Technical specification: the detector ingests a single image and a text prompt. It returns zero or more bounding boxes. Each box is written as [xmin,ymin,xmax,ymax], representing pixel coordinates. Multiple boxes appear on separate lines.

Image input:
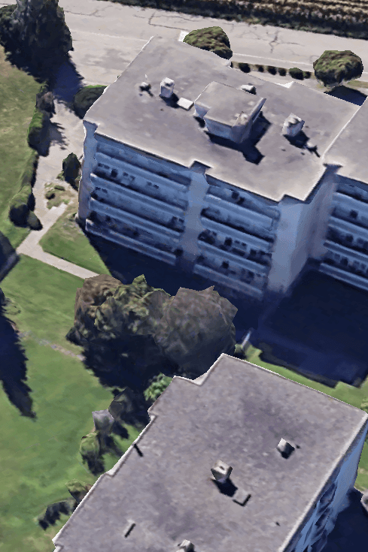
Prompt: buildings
[51,352,368,552]
[74,40,368,291]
